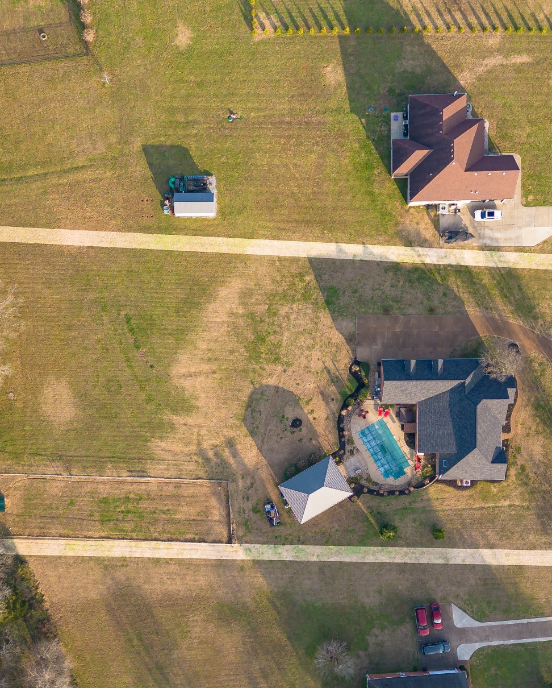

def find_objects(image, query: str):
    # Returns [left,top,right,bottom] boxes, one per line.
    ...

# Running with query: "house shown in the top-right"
[390,90,519,205]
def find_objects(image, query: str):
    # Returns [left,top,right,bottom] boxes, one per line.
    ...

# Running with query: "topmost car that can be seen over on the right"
[476,209,505,222]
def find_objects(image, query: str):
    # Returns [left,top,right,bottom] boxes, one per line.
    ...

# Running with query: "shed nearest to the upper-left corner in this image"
[174,192,215,216]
